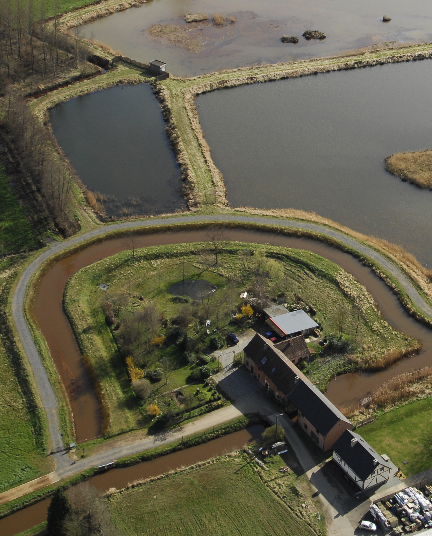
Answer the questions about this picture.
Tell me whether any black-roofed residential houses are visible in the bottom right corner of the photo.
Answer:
Yes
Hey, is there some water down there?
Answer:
Yes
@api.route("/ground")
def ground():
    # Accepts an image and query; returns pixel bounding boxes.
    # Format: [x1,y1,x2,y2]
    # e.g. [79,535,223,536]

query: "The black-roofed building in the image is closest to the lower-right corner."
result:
[330,429,392,492]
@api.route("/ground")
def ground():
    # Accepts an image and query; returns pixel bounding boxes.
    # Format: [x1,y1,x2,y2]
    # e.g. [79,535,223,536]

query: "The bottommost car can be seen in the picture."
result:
[357,519,378,533]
